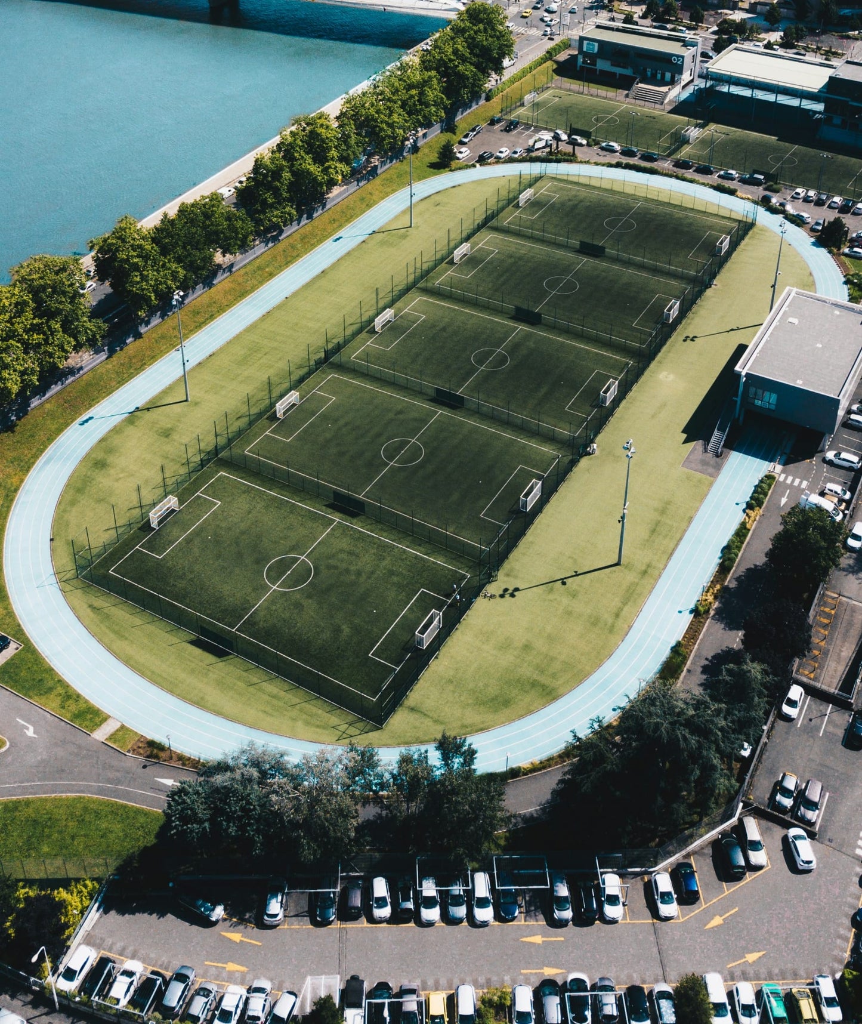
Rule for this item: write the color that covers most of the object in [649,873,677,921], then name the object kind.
white car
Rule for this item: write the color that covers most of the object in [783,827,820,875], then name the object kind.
white car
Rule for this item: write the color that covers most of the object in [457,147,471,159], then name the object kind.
white vehicle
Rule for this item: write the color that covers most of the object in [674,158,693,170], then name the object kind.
black vehicle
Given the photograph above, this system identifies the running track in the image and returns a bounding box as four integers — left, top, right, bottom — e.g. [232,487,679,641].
[8,161,848,787]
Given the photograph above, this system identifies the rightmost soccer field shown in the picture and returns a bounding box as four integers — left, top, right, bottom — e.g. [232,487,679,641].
[679,120,862,196]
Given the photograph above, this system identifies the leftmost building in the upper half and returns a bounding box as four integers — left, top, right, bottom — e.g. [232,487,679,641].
[578,19,710,98]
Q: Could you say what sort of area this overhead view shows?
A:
sports ground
